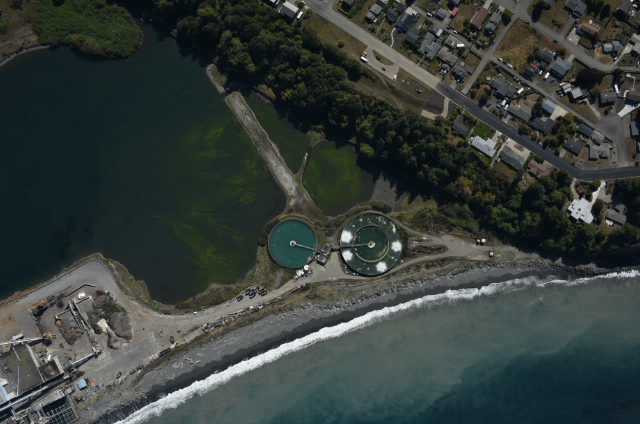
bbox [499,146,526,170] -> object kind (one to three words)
house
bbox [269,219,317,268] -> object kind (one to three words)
storage tank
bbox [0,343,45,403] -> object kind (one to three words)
building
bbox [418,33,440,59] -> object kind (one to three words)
house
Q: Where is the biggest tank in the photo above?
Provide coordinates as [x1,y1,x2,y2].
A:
[331,213,402,275]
